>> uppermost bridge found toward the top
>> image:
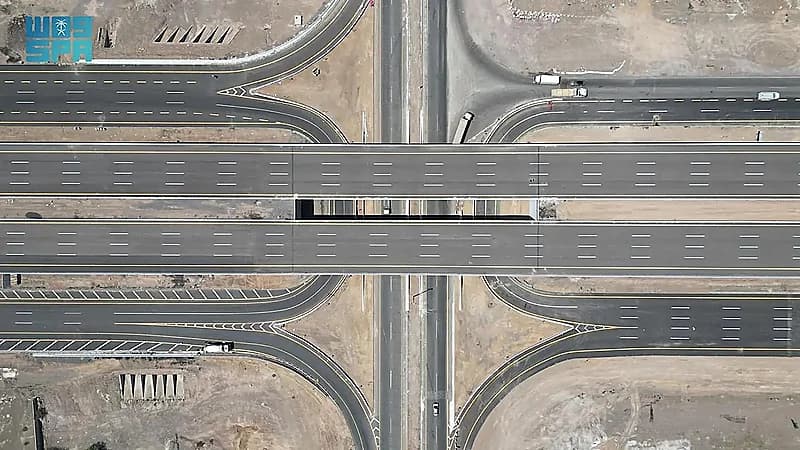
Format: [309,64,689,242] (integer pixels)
[291,141,541,200]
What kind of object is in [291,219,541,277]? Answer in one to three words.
bridge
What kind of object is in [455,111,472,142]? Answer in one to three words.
vehicle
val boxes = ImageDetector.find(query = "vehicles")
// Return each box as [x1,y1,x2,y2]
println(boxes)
[433,403,439,416]
[384,200,391,214]
[552,87,588,96]
[759,91,780,99]
[570,80,585,86]
[455,111,472,142]
[201,345,229,353]
[533,73,562,84]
